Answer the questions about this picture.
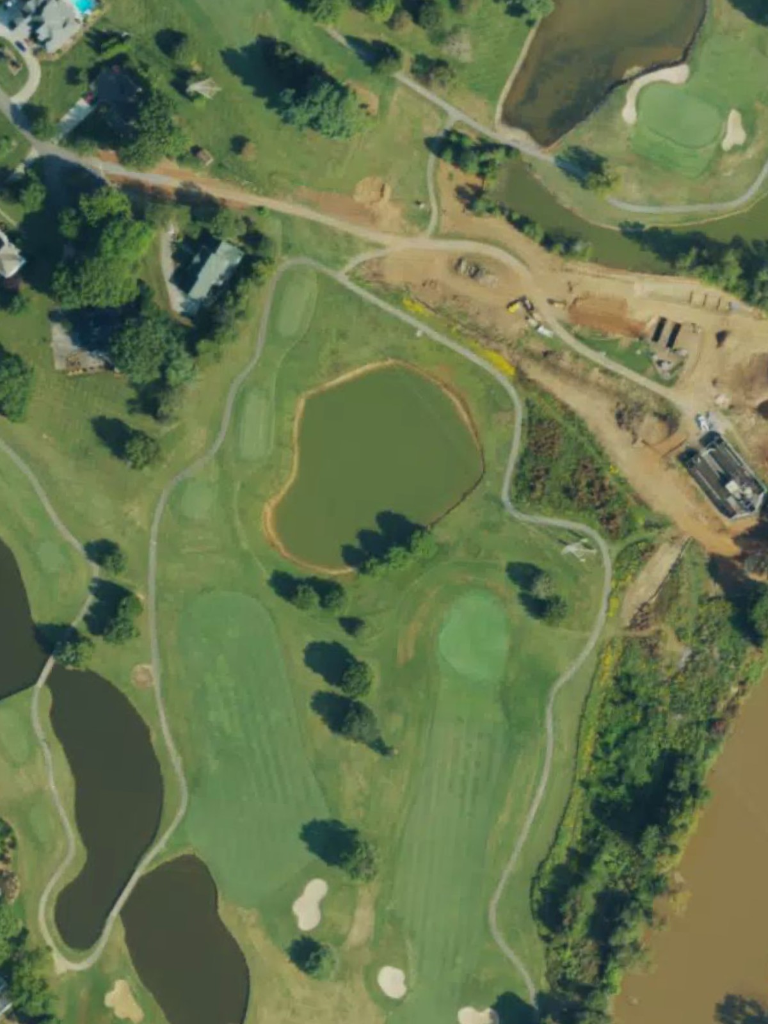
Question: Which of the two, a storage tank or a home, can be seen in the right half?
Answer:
storage tank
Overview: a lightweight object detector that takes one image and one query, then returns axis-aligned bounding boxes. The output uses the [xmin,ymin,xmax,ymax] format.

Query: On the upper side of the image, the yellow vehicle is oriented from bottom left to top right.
[507,299,528,314]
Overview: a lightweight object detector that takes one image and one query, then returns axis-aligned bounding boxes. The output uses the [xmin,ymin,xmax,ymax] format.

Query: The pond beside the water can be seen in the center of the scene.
[271,363,483,570]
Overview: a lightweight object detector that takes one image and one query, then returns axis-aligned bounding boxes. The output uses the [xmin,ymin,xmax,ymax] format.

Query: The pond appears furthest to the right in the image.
[502,0,705,147]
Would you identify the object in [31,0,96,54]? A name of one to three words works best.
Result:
house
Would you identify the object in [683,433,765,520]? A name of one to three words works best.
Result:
storage tank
